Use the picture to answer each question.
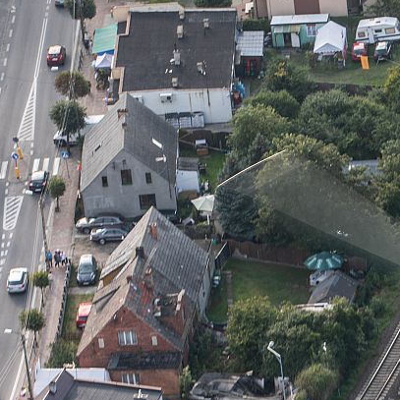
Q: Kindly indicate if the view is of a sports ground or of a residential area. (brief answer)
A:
residential area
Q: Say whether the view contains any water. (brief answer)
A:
No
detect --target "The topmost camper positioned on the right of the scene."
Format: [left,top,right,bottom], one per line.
[356,16,400,46]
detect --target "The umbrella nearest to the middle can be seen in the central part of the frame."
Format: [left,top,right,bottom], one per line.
[189,195,220,211]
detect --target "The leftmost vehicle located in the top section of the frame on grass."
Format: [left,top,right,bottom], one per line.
[352,43,370,63]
